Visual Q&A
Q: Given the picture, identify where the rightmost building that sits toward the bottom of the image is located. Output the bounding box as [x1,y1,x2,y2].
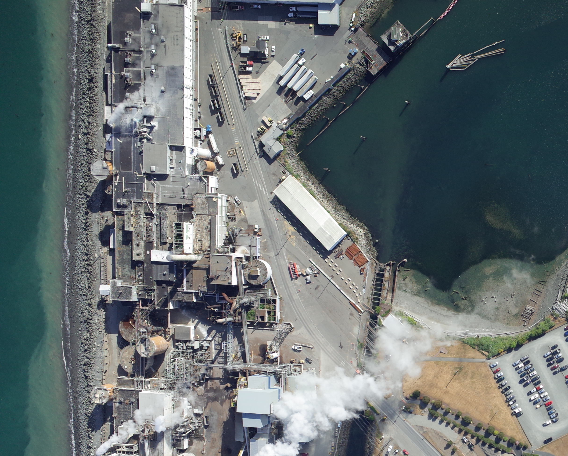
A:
[382,314,409,343]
